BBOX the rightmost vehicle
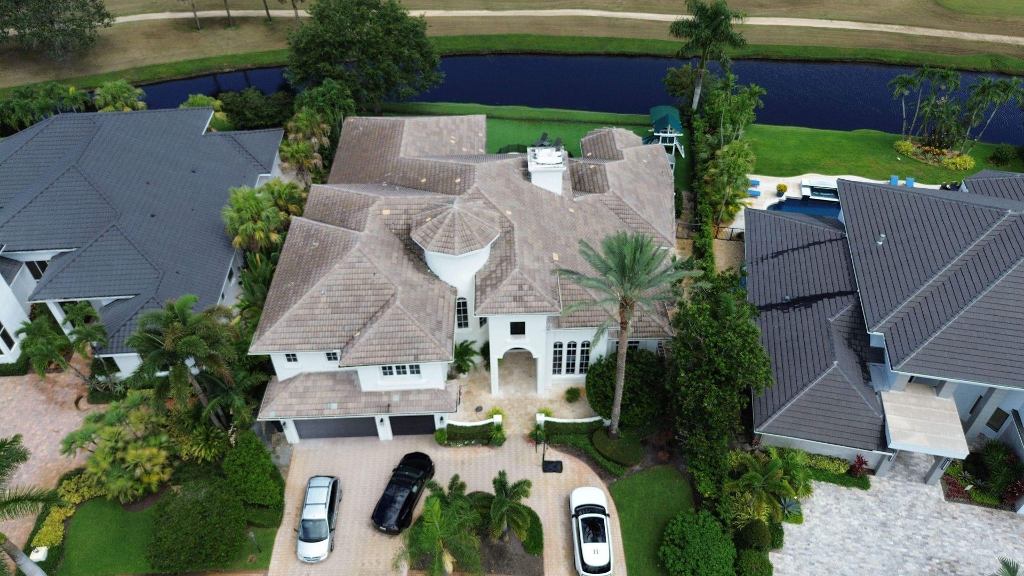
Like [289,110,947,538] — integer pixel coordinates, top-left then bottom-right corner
[569,488,615,576]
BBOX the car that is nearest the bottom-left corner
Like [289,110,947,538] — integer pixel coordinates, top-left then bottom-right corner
[294,477,343,564]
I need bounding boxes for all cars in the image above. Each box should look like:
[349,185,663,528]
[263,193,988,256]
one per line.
[294,477,343,564]
[569,488,615,576]
[376,454,435,533]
